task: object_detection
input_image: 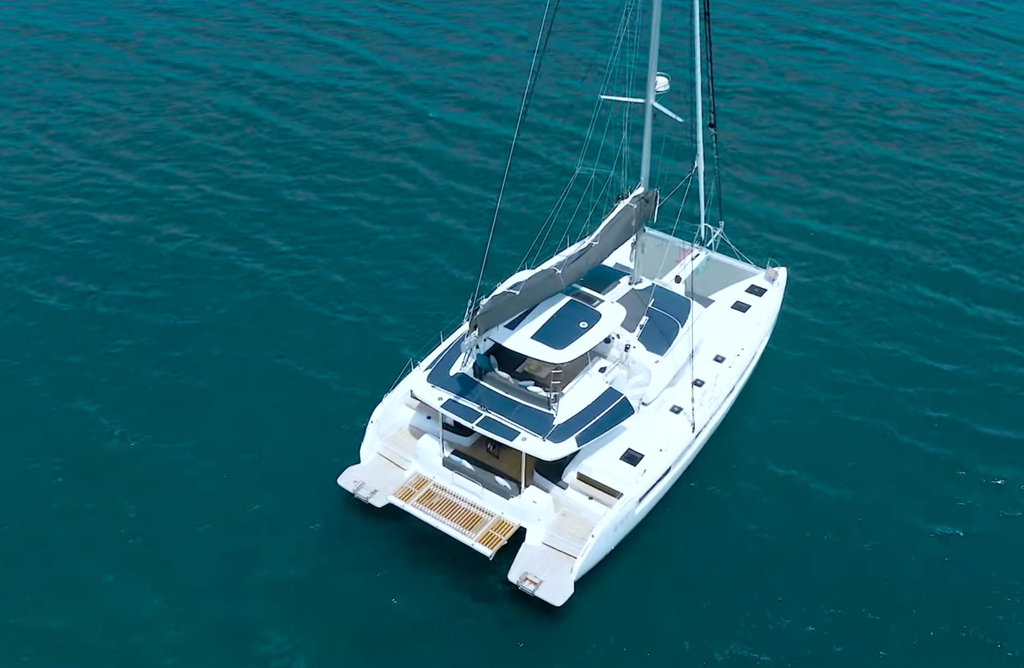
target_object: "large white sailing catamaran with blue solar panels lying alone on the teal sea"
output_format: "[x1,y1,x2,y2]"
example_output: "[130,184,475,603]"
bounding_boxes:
[340,0,786,608]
